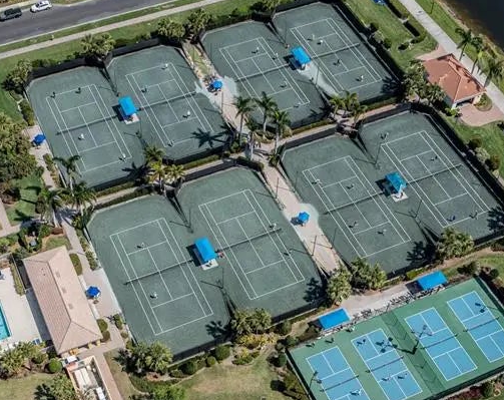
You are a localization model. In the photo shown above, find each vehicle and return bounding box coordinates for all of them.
[0,7,21,21]
[31,0,52,13]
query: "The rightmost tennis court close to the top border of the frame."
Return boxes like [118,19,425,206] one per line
[272,1,405,110]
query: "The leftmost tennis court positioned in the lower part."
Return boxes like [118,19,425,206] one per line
[84,193,237,361]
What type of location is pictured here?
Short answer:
sports ground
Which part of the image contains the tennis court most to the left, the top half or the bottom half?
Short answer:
top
